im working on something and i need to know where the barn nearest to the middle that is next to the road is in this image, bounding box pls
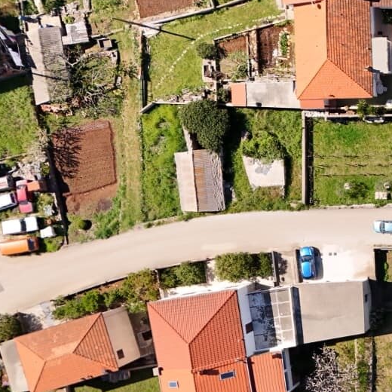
[174,148,232,212]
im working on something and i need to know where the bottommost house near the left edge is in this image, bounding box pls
[0,303,153,392]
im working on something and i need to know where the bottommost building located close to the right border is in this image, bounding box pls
[294,275,377,344]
